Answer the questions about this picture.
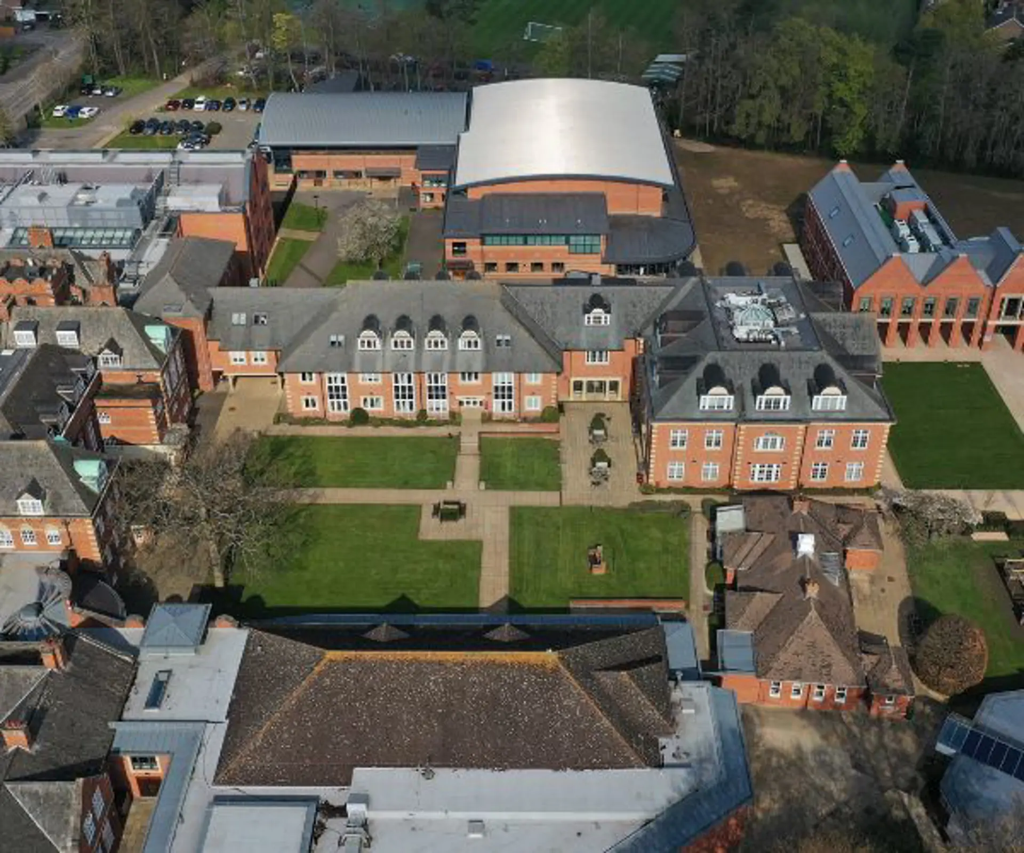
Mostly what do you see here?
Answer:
buildings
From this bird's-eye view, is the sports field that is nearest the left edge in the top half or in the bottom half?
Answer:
top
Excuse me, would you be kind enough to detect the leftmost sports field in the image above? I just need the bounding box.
[472,0,689,68]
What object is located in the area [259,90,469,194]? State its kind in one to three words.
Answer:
building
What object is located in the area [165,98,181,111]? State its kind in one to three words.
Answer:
vehicle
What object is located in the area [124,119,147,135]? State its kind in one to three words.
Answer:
car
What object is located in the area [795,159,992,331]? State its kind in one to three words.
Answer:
building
